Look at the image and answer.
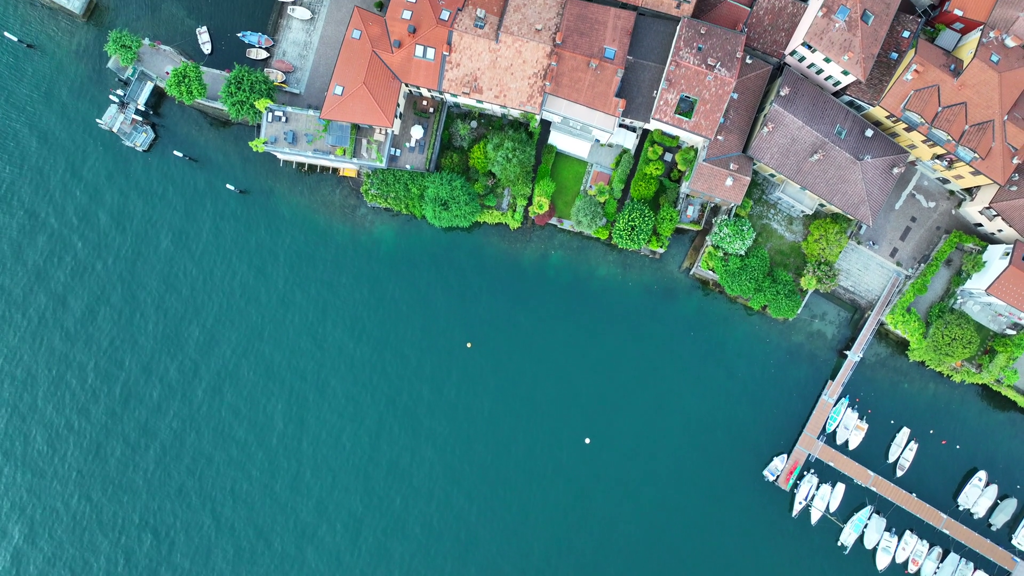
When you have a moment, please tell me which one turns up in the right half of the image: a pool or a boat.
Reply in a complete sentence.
There is a boat in the right half of the image.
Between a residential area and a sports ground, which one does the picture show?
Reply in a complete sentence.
This image shows a residential area.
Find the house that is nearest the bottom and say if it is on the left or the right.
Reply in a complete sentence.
The house that is nearest the bottom is on the right side of the image.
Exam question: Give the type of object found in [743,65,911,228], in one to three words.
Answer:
house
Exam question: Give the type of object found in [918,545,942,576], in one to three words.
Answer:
boat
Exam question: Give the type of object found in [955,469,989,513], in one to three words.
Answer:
boat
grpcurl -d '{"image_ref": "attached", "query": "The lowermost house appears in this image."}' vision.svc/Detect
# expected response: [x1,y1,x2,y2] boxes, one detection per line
[960,239,1024,326]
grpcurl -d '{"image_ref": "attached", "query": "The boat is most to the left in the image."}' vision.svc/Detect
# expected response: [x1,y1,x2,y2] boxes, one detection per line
[195,24,210,55]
